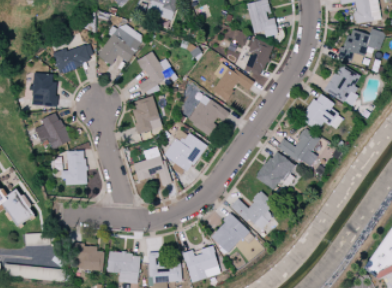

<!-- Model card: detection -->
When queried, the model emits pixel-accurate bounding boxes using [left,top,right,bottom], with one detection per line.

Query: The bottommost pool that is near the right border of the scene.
[360,72,384,105]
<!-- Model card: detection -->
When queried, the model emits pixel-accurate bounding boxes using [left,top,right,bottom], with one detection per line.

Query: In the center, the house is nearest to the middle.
[169,130,206,169]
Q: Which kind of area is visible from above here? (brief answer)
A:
residential area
